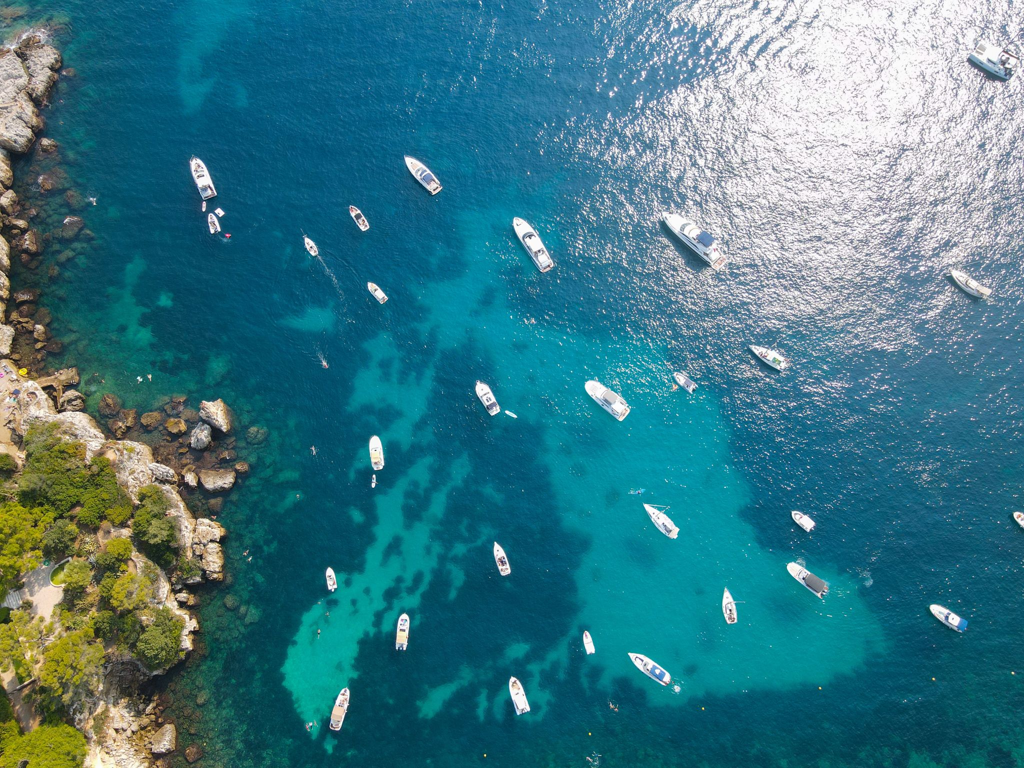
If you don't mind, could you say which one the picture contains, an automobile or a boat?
boat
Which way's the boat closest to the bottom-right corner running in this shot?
on a diagonal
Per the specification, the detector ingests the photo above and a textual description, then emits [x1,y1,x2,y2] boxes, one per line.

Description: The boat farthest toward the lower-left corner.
[329,688,350,730]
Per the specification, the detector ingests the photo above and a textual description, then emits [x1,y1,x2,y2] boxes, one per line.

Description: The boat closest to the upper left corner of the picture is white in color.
[190,155,218,203]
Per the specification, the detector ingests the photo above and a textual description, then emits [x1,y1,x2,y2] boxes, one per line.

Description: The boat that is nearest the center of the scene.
[475,380,502,418]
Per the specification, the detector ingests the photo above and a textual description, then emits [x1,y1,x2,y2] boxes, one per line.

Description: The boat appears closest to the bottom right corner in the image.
[927,604,970,637]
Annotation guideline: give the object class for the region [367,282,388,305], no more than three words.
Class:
boat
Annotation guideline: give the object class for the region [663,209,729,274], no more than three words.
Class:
boat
